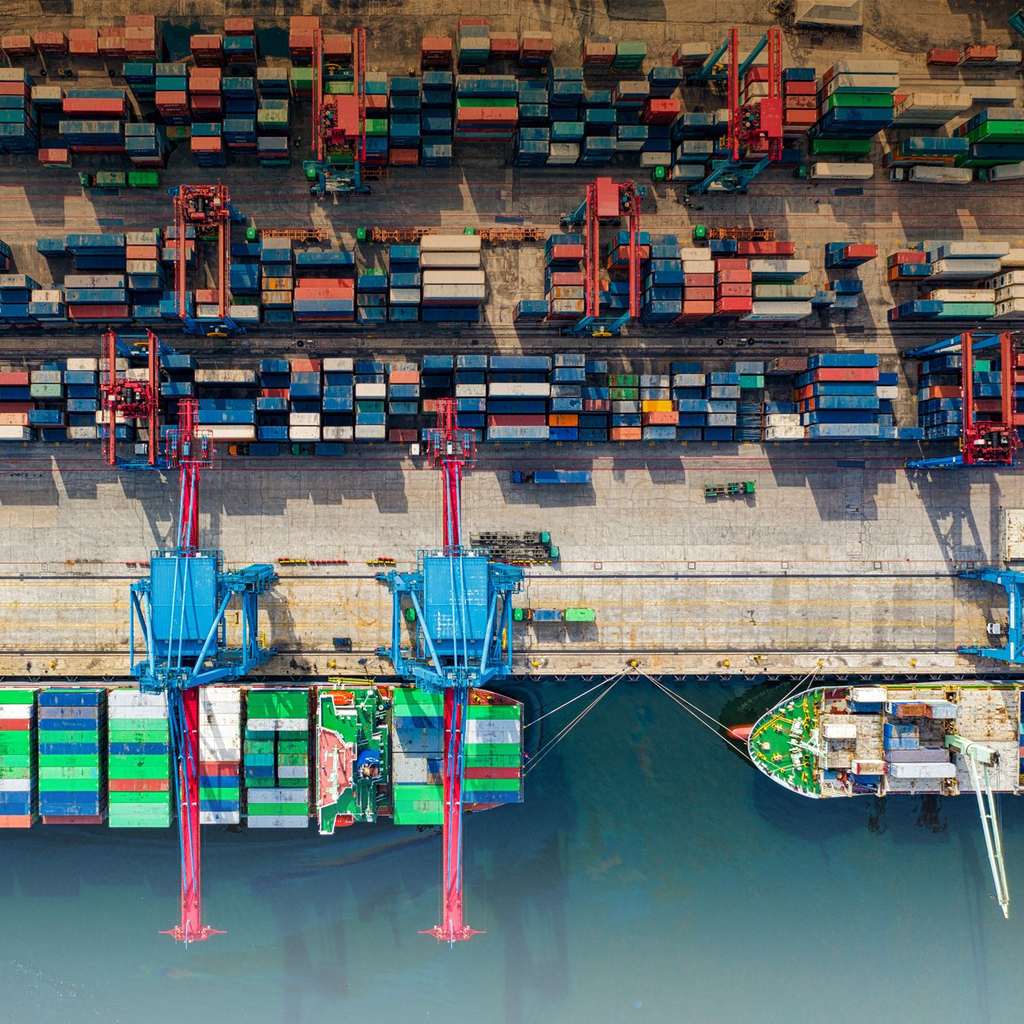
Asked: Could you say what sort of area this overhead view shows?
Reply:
port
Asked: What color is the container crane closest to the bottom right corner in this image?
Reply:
blue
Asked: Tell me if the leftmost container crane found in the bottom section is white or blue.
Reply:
blue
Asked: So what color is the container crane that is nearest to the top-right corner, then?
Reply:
red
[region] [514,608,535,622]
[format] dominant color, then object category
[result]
green vehicle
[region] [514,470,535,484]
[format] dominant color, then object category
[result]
blue vehicle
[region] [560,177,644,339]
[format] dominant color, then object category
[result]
red container crane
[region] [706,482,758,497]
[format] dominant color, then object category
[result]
green vehicle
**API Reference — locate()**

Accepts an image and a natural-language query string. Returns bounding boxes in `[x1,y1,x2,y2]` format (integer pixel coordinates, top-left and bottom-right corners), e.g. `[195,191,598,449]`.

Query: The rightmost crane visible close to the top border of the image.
[687,20,783,194]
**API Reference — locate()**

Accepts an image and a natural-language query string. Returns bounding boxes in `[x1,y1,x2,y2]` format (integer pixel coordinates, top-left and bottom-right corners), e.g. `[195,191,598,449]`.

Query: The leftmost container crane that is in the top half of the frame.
[99,325,181,472]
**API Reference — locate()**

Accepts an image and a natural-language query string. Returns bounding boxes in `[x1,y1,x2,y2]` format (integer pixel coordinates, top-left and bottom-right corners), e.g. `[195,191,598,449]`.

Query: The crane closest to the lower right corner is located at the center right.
[959,573,1024,667]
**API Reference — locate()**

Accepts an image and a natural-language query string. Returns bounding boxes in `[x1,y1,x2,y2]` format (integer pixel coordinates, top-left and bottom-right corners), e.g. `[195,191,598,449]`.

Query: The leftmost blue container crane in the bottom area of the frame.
[127,398,279,960]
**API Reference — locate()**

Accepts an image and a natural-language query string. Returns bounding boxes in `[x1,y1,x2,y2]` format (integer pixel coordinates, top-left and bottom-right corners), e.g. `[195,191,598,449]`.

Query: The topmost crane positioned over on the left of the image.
[305,20,372,194]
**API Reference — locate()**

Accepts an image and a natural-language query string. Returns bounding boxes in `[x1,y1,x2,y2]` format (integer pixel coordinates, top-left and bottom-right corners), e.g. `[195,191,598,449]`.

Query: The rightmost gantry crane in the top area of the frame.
[905,325,1020,472]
